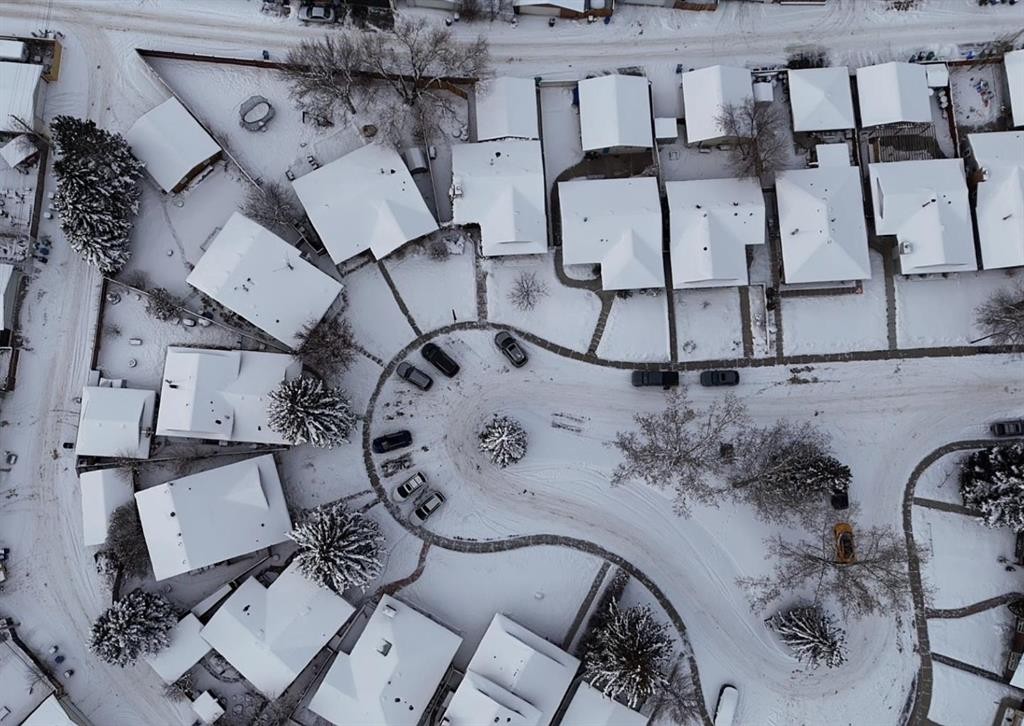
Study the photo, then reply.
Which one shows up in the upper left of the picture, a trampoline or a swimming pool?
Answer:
trampoline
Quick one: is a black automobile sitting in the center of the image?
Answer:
Yes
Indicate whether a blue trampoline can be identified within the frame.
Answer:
No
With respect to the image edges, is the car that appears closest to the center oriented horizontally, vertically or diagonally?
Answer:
diagonally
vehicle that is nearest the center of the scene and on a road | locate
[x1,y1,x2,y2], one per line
[495,330,528,368]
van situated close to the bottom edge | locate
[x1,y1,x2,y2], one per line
[712,685,741,726]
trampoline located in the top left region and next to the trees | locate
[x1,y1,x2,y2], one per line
[237,94,274,130]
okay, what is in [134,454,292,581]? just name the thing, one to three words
house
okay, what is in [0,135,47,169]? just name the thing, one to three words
shed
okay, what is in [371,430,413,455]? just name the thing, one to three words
car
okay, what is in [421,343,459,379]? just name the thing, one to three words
car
